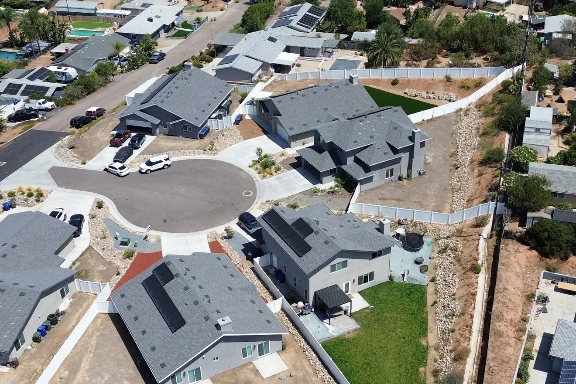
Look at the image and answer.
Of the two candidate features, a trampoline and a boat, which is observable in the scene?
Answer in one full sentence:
Visible in the photo is a trampoline.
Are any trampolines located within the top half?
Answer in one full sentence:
No, I see no trampoline within the top half.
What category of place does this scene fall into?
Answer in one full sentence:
It's a residential area.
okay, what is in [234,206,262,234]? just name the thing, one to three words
car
